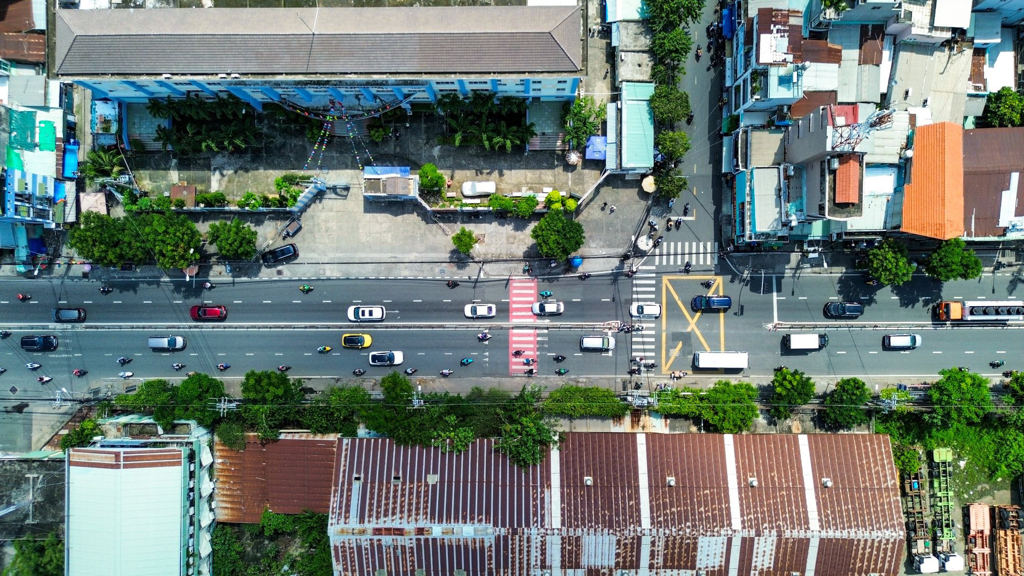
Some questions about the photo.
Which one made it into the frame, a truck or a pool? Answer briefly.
truck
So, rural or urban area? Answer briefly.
urban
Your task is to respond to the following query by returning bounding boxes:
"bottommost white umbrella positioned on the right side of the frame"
[637,235,653,251]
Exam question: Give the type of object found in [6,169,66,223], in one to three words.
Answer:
house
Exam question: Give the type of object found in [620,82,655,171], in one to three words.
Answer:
house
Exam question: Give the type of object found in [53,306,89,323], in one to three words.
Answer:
car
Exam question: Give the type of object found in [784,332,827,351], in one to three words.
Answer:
vehicle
